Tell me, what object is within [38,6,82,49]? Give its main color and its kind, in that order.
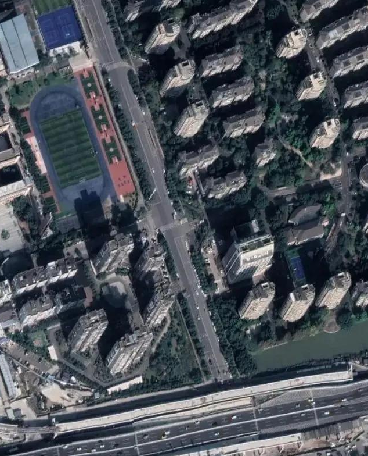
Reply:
blue sports court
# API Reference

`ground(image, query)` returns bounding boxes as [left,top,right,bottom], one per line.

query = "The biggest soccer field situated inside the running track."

[41,110,102,188]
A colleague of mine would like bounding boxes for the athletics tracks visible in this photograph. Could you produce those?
[30,74,115,208]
